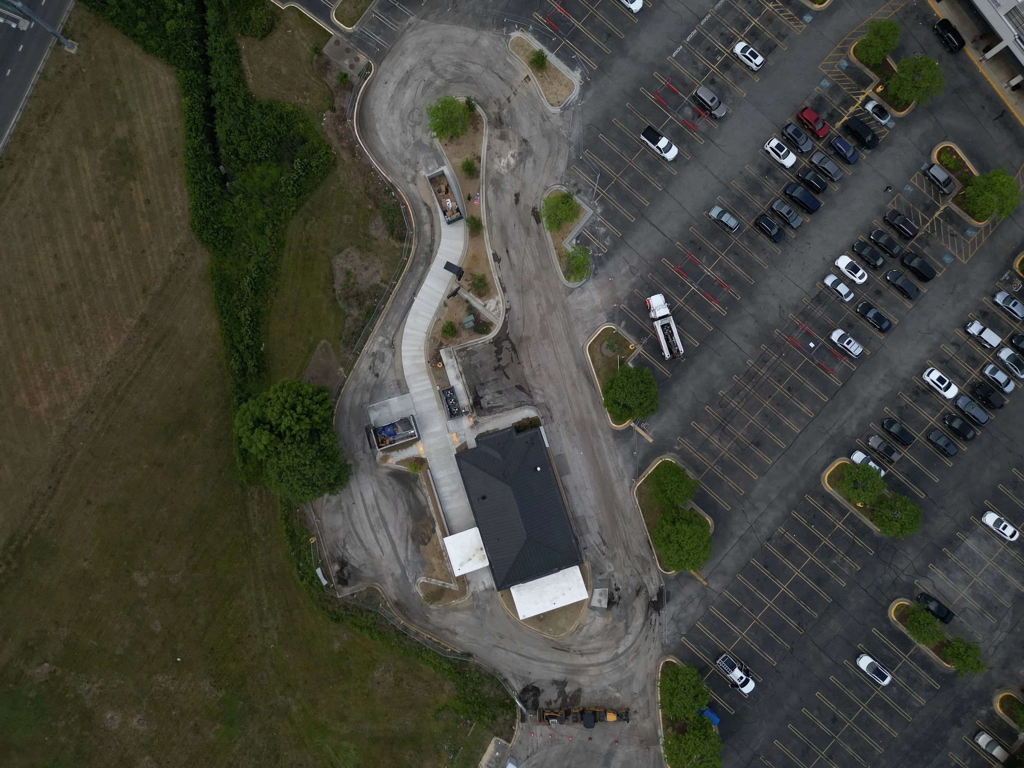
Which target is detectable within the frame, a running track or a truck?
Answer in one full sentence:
It is a truck that can be seen here.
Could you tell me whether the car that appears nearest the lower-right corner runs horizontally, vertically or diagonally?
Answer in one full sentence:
The car that appears nearest the lower-right corner has been laid out diagonally relative to the frame.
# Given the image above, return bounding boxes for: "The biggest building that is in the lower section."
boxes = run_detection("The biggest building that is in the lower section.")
[454,426,583,592]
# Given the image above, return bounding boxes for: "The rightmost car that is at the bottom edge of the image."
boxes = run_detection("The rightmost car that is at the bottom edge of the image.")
[972,730,1011,764]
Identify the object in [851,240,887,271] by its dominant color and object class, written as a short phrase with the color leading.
black car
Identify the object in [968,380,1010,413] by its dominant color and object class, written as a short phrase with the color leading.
black truck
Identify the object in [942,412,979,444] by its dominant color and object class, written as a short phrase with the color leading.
black car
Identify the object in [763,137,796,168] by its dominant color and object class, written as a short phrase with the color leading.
white car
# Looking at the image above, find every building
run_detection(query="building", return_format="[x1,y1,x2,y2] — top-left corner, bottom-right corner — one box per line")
[454,426,583,592]
[973,0,1024,68]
